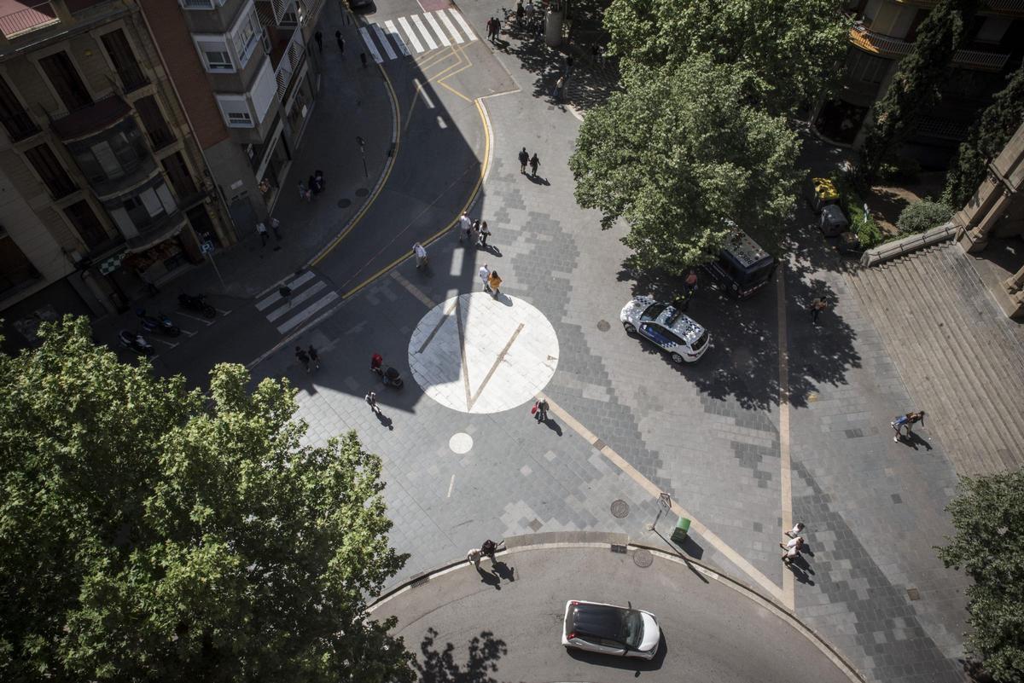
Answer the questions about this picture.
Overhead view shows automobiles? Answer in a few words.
Yes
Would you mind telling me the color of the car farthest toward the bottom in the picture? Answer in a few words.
black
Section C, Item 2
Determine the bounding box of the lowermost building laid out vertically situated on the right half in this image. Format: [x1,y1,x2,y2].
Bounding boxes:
[952,190,1024,347]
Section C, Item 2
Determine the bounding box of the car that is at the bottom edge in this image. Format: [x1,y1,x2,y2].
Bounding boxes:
[562,608,657,671]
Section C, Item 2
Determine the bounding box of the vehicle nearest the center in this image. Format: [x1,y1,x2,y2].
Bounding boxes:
[620,295,711,366]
